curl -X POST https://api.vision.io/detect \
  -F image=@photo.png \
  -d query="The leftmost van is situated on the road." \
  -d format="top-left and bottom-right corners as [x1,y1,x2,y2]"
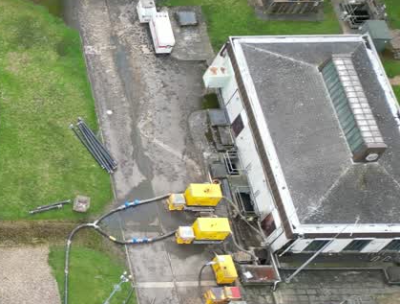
[133,0,164,30]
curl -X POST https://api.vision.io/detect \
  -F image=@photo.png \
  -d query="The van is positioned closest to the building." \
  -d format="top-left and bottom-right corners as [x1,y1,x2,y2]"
[147,13,183,60]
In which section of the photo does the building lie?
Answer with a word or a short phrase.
right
